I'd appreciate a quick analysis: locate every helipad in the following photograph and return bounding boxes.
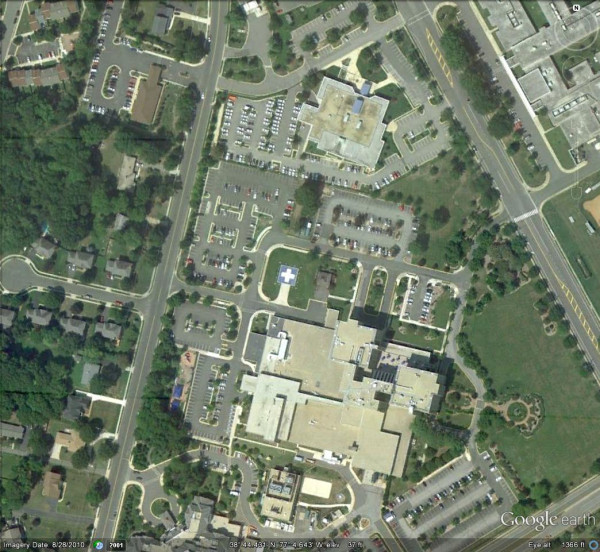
[278,265,299,285]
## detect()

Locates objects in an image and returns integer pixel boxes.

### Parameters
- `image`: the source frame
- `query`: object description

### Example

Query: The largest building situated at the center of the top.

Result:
[299,77,389,171]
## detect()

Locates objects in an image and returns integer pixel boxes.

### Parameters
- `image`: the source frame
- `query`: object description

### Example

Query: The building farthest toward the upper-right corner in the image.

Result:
[478,0,600,150]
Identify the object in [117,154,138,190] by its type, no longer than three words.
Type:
house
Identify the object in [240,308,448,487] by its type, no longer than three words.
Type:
building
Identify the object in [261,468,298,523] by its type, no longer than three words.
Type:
building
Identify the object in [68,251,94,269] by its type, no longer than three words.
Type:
house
